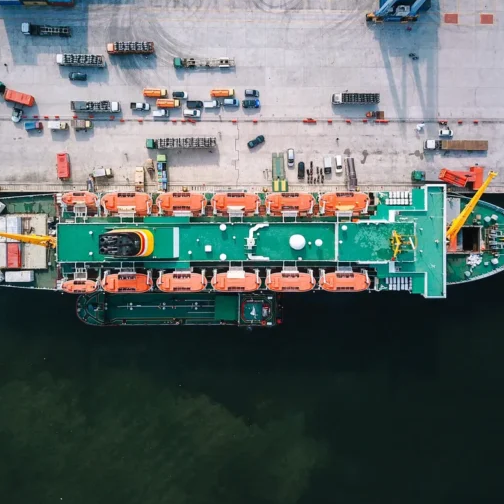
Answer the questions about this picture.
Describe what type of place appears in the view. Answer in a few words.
port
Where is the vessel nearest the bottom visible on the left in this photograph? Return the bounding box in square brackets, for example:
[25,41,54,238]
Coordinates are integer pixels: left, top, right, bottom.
[76,291,282,328]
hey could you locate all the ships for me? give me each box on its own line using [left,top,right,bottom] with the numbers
[76,291,282,328]
[0,172,504,298]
